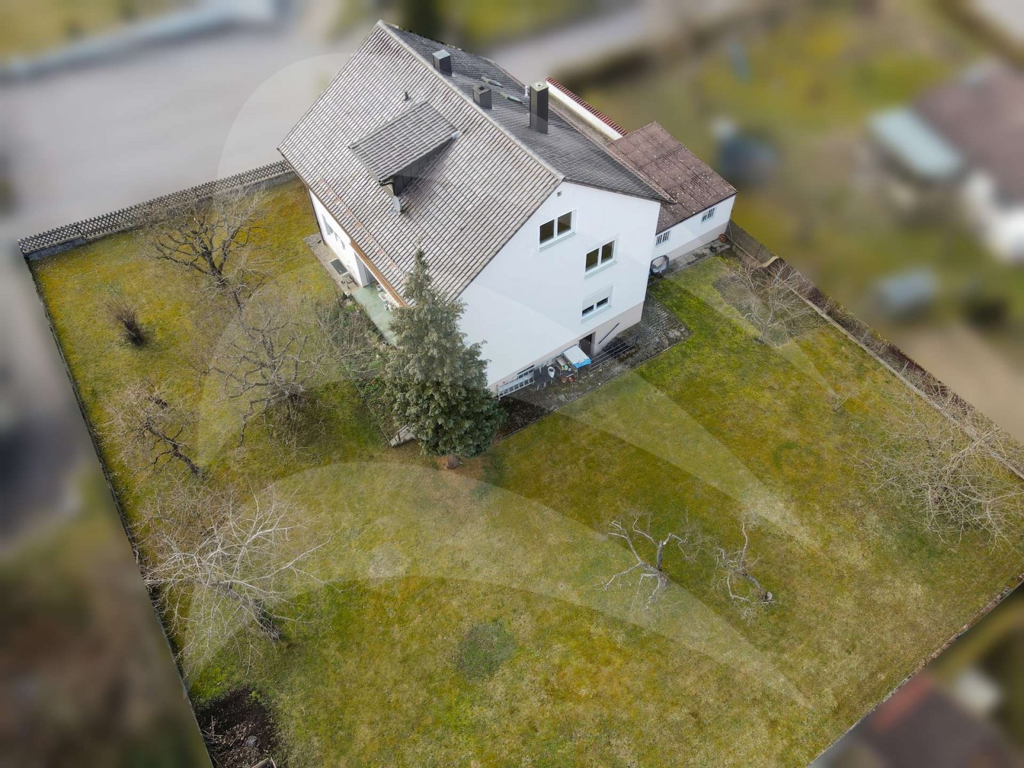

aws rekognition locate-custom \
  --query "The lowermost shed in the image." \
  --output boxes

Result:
[861,661,1024,768]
